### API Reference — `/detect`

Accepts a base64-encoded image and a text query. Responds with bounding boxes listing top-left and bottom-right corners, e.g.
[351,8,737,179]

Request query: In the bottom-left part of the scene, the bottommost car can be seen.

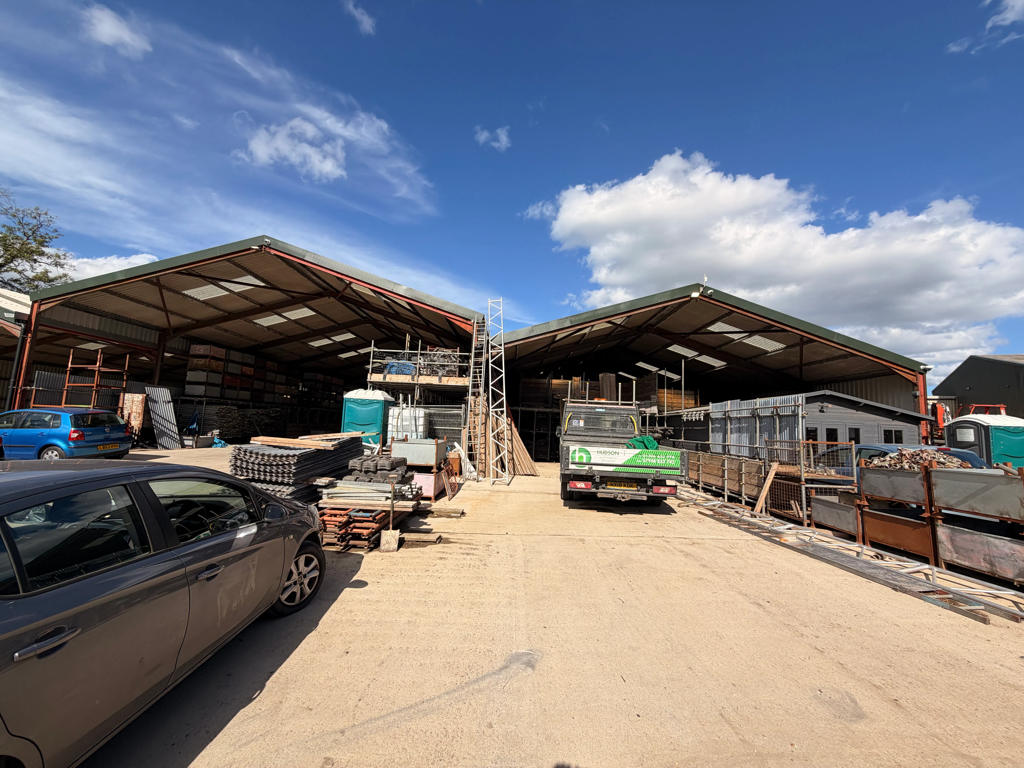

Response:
[0,446,324,768]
